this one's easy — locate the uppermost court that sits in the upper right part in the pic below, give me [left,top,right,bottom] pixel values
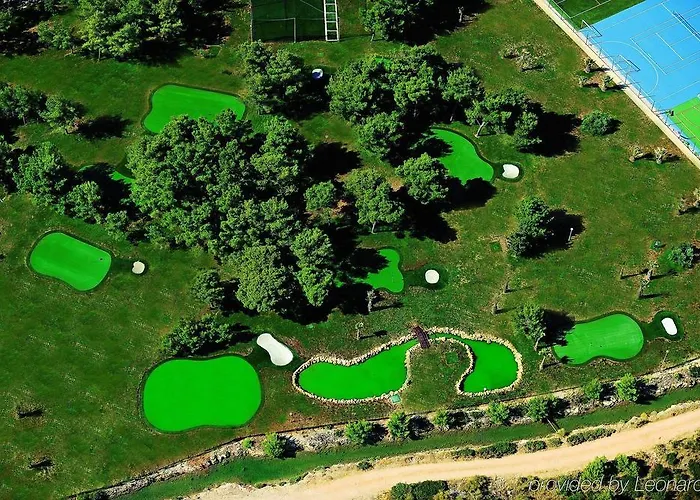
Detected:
[550,0,647,29]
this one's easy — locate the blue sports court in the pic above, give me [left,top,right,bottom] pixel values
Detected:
[578,0,700,155]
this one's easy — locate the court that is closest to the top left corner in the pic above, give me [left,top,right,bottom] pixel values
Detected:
[247,0,339,42]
